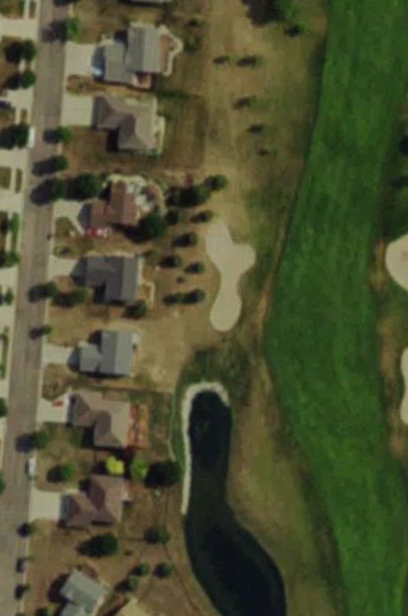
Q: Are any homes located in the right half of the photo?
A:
No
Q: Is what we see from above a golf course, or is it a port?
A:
golf course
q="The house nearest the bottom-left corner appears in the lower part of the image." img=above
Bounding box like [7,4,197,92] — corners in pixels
[51,568,109,616]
